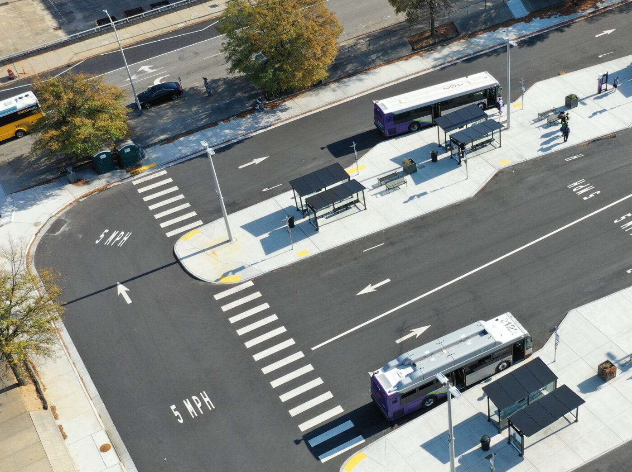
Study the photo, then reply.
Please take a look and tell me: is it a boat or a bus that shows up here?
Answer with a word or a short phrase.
bus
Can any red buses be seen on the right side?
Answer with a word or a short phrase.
No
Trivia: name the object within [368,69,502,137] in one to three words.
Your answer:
bus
